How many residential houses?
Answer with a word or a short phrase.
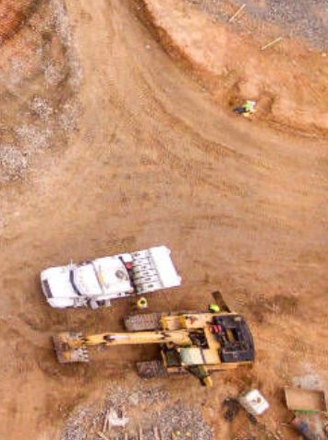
zero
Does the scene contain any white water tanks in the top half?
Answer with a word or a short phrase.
No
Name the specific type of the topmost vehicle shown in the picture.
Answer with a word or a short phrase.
truck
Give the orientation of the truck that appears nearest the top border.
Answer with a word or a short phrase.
from side to side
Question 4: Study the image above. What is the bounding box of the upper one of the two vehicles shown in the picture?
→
[33,242,193,308]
